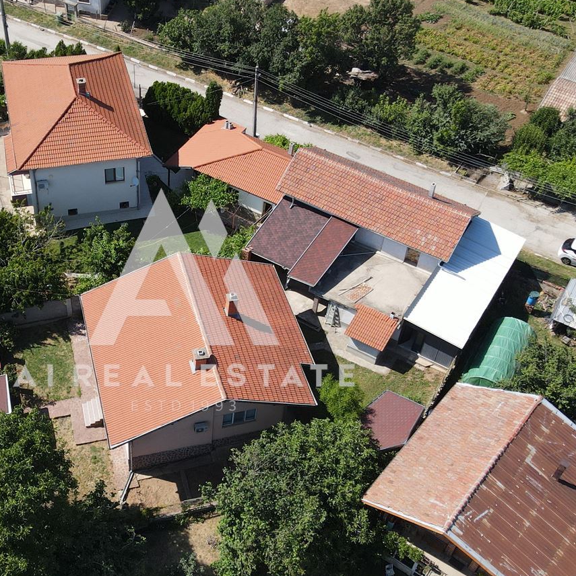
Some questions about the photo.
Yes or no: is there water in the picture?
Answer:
No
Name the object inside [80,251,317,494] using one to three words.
house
